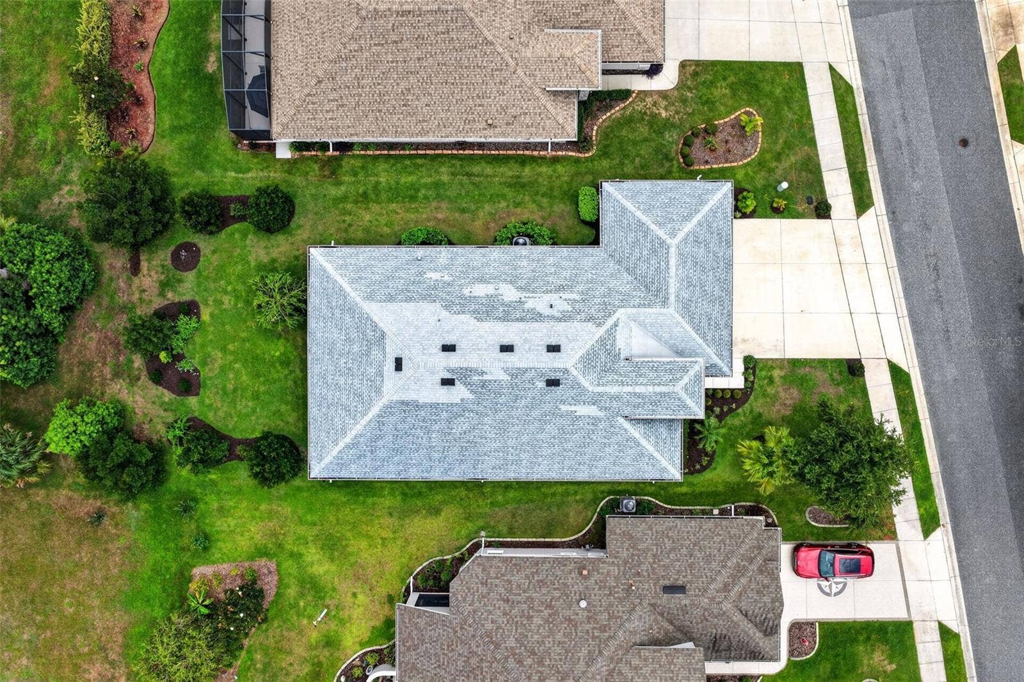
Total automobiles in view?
1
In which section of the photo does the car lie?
bottom right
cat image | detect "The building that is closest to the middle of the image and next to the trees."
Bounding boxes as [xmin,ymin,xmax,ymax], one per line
[306,178,736,483]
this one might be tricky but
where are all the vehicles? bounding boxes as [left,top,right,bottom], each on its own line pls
[792,542,876,584]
